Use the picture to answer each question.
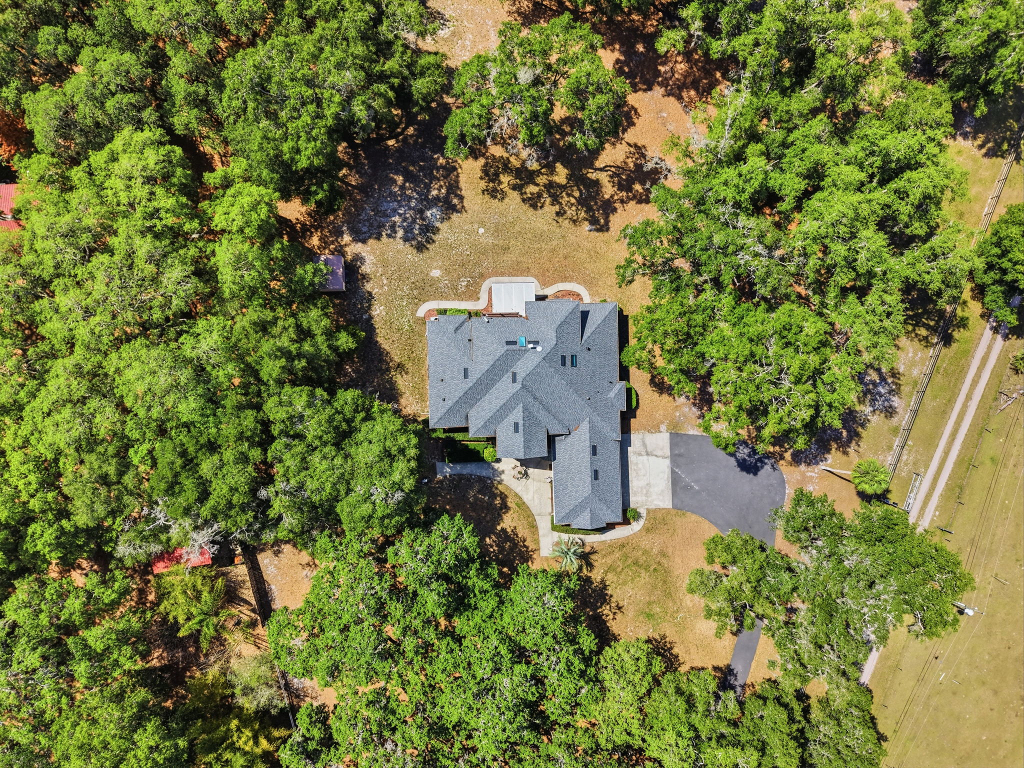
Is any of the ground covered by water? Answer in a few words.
No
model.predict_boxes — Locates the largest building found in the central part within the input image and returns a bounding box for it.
[421,301,626,530]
